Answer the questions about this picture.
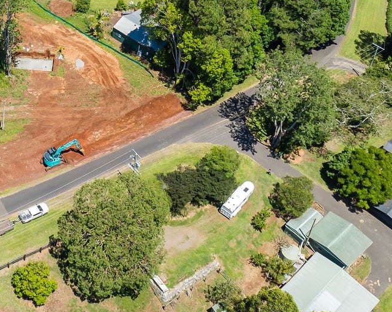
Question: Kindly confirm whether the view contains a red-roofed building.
No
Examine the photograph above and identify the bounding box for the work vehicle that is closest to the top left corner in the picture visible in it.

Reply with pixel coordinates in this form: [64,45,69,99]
[41,133,89,168]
